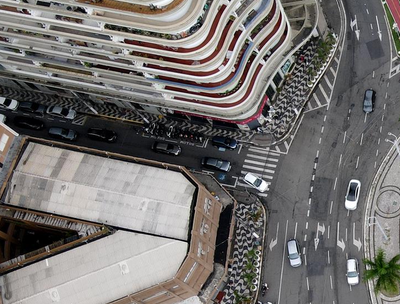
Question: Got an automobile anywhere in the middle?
Yes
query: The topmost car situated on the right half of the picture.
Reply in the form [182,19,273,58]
[363,89,376,114]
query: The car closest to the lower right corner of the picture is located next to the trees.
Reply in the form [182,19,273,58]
[346,259,361,286]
